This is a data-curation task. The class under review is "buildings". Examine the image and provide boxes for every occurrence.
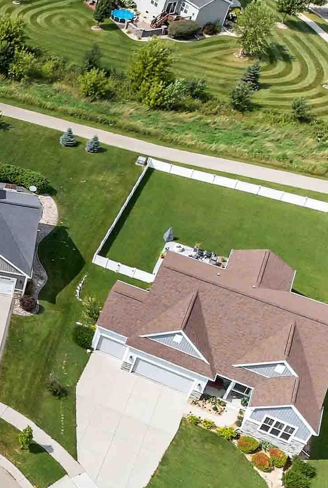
[0,189,46,298]
[94,243,328,466]
[134,0,234,26]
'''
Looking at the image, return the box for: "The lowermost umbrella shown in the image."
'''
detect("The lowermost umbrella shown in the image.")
[165,222,177,243]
